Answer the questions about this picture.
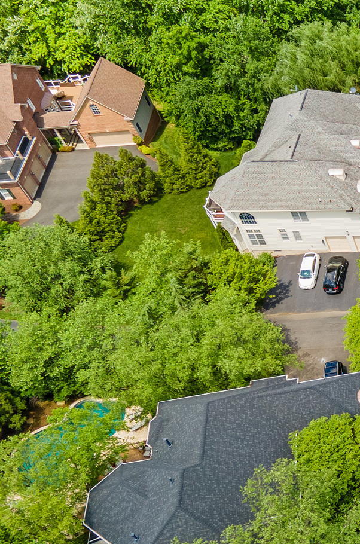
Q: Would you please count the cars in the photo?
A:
3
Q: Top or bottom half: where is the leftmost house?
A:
top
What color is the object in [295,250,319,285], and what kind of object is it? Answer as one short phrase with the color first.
white car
